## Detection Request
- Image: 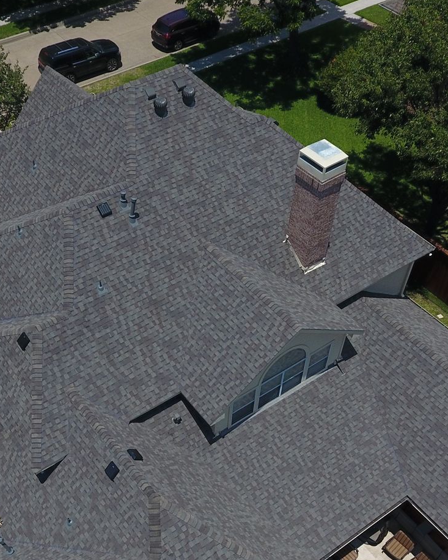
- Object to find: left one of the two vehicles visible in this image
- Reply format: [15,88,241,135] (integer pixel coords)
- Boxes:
[40,38,123,84]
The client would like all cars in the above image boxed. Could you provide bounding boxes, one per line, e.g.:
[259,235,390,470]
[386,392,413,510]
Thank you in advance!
[159,6,226,48]
[40,38,123,84]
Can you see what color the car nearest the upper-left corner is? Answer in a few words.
black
